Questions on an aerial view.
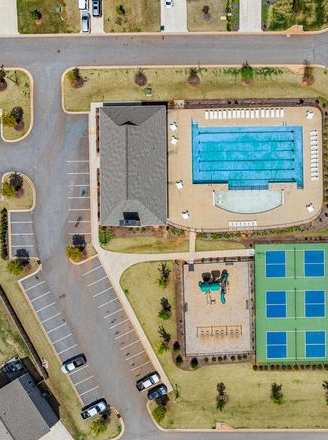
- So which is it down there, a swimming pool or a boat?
swimming pool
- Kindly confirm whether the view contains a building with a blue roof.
No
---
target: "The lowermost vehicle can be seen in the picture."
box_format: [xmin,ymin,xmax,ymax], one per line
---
[82,399,108,418]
